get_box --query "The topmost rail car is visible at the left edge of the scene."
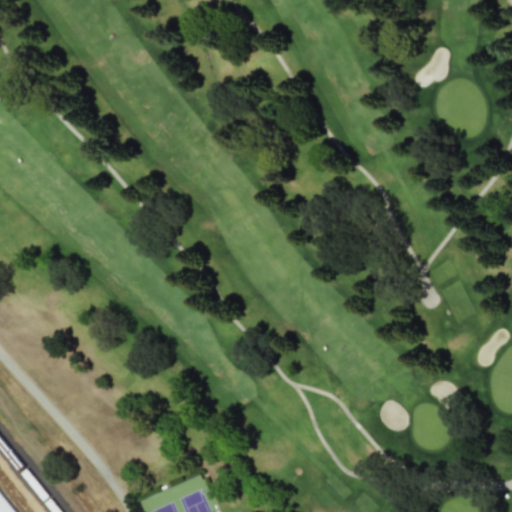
[0,431,28,470]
